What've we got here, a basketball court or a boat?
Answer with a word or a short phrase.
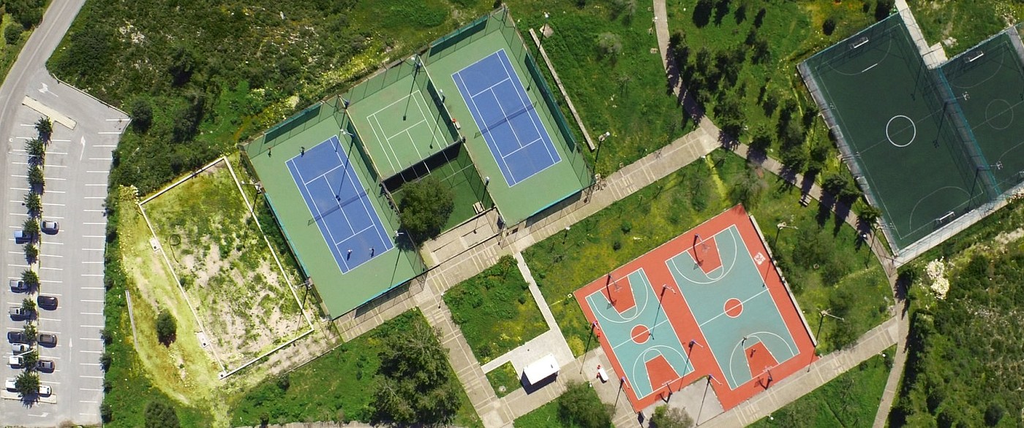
basketball court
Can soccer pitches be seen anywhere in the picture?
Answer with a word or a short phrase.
Yes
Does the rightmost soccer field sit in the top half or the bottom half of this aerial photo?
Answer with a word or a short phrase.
top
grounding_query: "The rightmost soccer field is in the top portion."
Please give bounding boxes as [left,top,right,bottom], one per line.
[930,30,1024,195]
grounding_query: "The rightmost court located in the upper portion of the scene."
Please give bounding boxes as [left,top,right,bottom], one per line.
[418,9,594,225]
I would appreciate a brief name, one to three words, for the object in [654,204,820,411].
basketball court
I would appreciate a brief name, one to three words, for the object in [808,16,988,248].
soccer field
